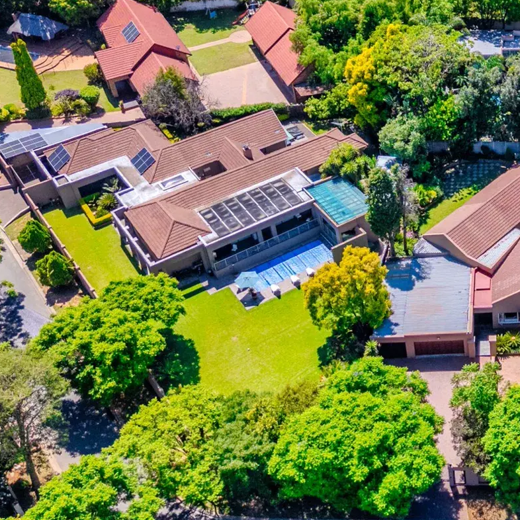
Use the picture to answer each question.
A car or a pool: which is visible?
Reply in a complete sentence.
There is a pool in the scene.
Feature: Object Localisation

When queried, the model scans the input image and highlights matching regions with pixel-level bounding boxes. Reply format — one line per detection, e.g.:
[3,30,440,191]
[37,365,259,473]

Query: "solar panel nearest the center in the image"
[130,148,155,174]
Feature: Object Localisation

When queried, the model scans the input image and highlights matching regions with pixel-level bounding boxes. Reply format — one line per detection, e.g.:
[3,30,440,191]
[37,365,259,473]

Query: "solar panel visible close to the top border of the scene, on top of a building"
[121,20,140,42]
